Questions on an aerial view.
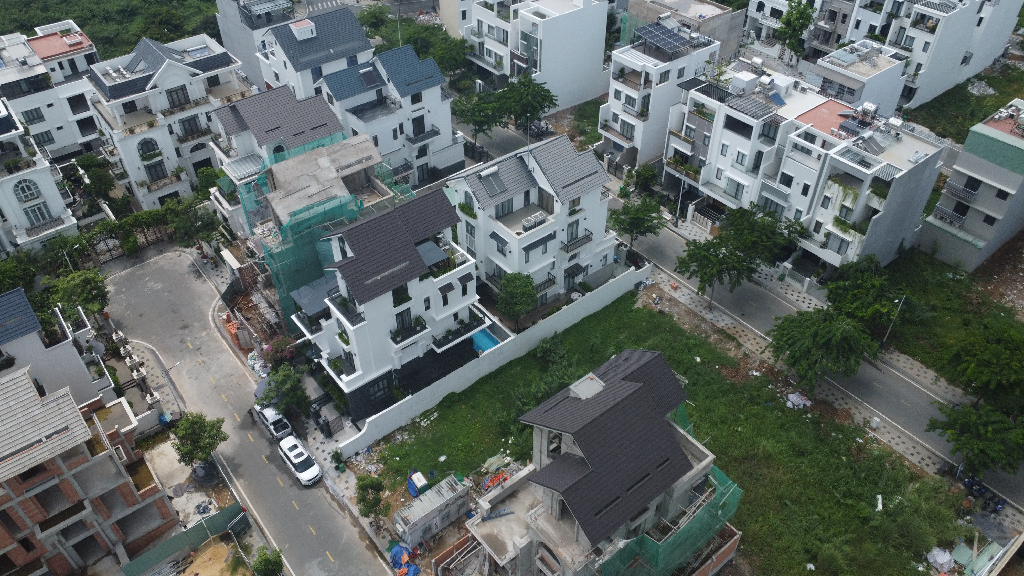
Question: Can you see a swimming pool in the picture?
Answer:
Yes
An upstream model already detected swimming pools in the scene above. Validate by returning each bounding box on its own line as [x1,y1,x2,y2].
[470,330,499,355]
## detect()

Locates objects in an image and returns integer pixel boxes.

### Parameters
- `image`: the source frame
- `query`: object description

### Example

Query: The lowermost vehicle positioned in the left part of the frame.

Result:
[280,438,320,484]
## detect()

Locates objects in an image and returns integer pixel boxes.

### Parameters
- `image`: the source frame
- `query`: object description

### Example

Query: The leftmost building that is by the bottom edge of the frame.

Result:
[0,366,180,576]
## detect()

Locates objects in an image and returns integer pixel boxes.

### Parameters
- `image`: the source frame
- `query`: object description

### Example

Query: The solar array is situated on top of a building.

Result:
[634,22,694,62]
